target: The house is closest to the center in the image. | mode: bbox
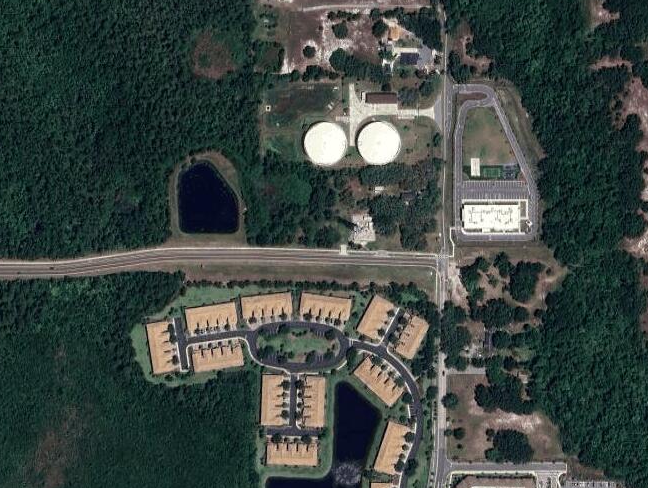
[354,217,373,240]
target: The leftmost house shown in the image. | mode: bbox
[146,320,178,374]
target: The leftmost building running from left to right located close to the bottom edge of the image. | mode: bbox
[266,441,317,466]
